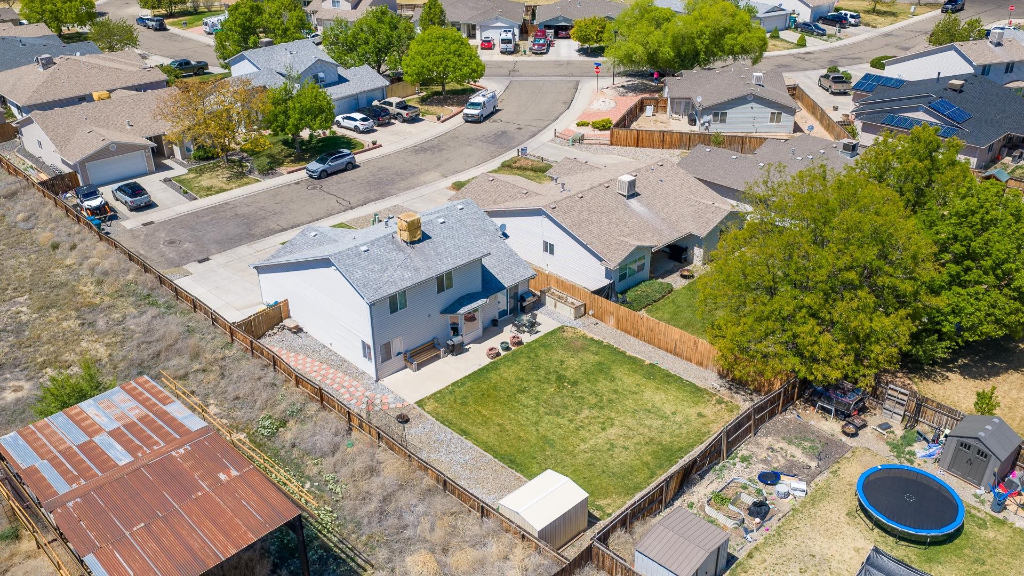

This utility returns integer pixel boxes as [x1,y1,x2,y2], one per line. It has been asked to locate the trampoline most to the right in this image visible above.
[850,464,965,550]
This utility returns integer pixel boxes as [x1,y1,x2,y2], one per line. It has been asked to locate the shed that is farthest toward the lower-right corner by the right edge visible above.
[936,413,1021,493]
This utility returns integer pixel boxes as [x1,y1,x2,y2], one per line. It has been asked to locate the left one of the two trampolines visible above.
[757,466,779,483]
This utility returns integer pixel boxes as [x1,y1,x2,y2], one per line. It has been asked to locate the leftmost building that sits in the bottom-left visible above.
[0,379,307,576]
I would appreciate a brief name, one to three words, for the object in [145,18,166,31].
vehicle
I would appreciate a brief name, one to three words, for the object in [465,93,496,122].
van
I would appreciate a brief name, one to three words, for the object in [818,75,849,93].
vehicle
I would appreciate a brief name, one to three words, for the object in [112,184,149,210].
car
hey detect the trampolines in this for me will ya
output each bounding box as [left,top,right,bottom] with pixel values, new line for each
[757,466,779,483]
[850,464,965,550]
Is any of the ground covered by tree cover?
Yes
